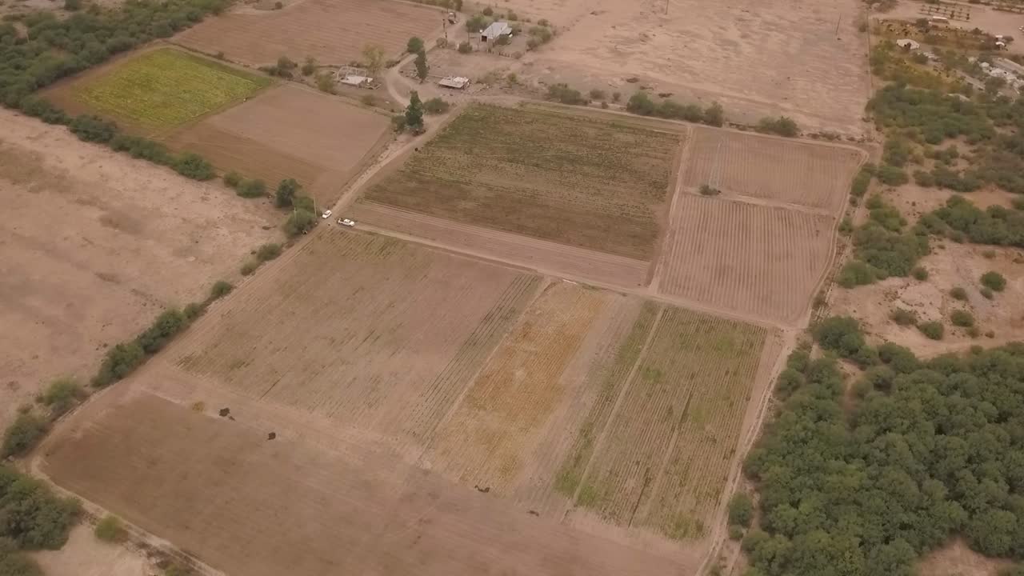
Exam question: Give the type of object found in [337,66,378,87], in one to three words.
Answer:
house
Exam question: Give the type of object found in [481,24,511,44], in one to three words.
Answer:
shed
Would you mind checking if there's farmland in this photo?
Yes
